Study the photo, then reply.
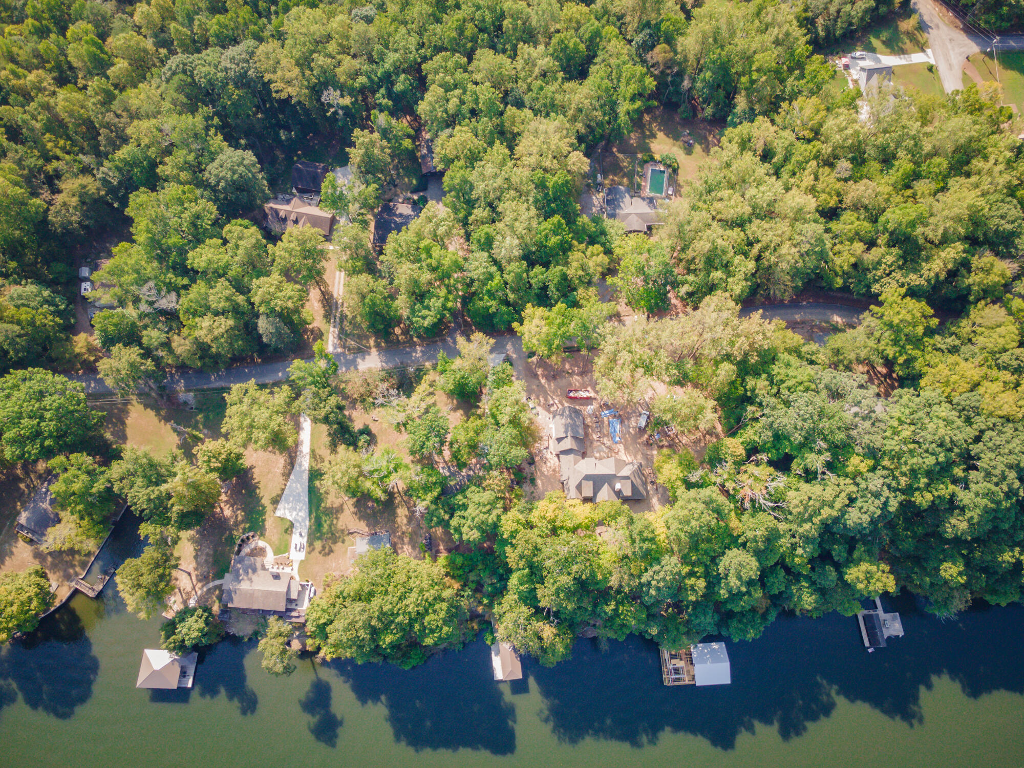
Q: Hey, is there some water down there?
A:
Yes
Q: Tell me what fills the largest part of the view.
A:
trees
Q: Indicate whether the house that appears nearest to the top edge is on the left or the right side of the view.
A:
right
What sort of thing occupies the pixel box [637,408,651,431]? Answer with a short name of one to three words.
car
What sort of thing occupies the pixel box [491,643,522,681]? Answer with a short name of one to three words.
building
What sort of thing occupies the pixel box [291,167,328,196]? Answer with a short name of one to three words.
building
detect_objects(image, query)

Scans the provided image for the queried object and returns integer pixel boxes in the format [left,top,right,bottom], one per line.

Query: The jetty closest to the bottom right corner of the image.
[857,594,905,647]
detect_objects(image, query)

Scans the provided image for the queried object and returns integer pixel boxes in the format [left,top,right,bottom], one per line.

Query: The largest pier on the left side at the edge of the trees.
[74,566,117,598]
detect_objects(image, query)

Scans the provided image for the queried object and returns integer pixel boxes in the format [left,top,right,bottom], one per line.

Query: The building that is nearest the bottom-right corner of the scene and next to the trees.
[690,642,730,686]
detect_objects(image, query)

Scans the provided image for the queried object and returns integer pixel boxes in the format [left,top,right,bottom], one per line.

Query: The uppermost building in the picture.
[857,60,897,124]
